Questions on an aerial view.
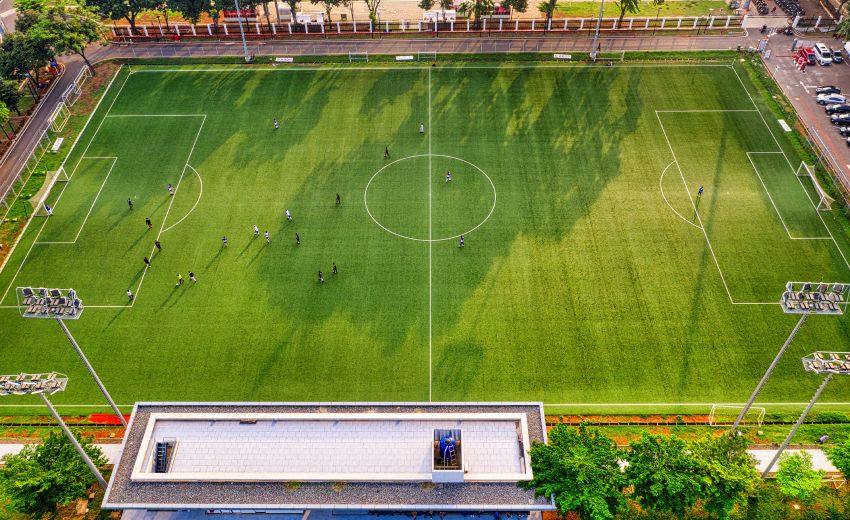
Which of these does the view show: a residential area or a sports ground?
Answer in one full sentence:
It's a sports ground.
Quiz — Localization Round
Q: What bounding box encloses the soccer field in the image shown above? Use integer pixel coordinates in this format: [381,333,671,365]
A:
[0,58,850,417]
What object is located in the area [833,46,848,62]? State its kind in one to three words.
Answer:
car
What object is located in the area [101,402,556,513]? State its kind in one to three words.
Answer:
building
